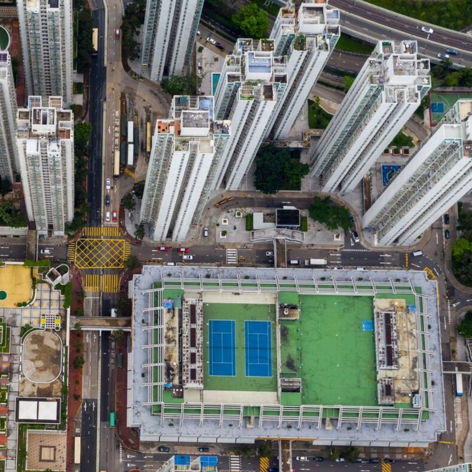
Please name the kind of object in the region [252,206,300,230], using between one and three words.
building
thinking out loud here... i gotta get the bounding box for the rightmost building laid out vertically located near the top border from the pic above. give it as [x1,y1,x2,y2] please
[260,0,341,153]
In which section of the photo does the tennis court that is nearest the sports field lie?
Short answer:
bottom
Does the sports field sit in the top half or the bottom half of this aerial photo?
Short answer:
bottom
